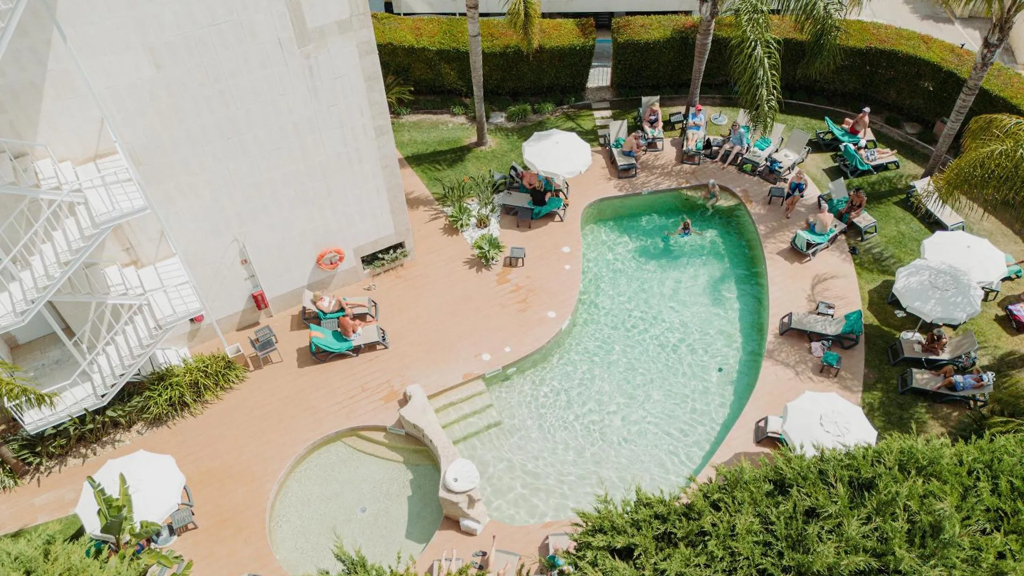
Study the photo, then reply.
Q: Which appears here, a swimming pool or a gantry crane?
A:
swimming pool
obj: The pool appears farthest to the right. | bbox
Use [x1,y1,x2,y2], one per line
[428,182,772,529]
